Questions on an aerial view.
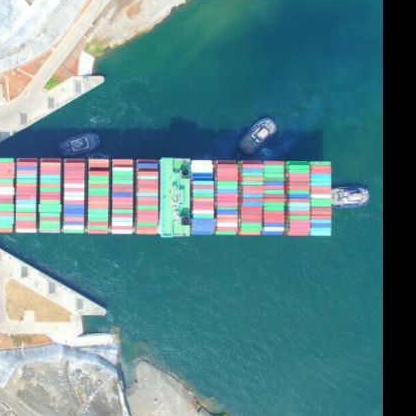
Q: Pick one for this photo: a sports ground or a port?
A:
port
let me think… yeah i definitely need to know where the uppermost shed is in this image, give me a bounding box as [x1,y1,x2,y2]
[78,50,95,75]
